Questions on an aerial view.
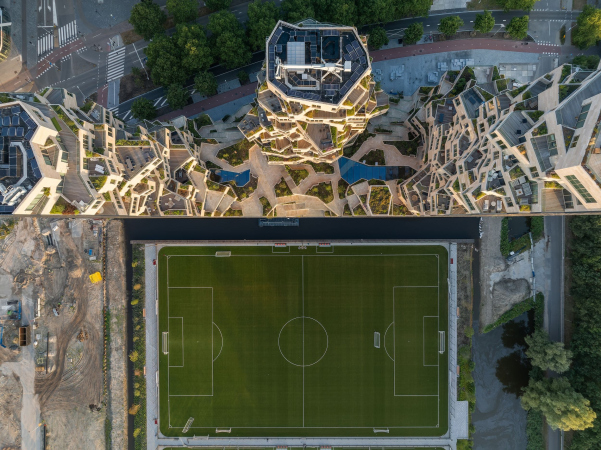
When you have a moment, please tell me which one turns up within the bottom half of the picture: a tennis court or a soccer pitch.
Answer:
soccer pitch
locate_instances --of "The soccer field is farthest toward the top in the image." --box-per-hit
[158,246,450,438]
